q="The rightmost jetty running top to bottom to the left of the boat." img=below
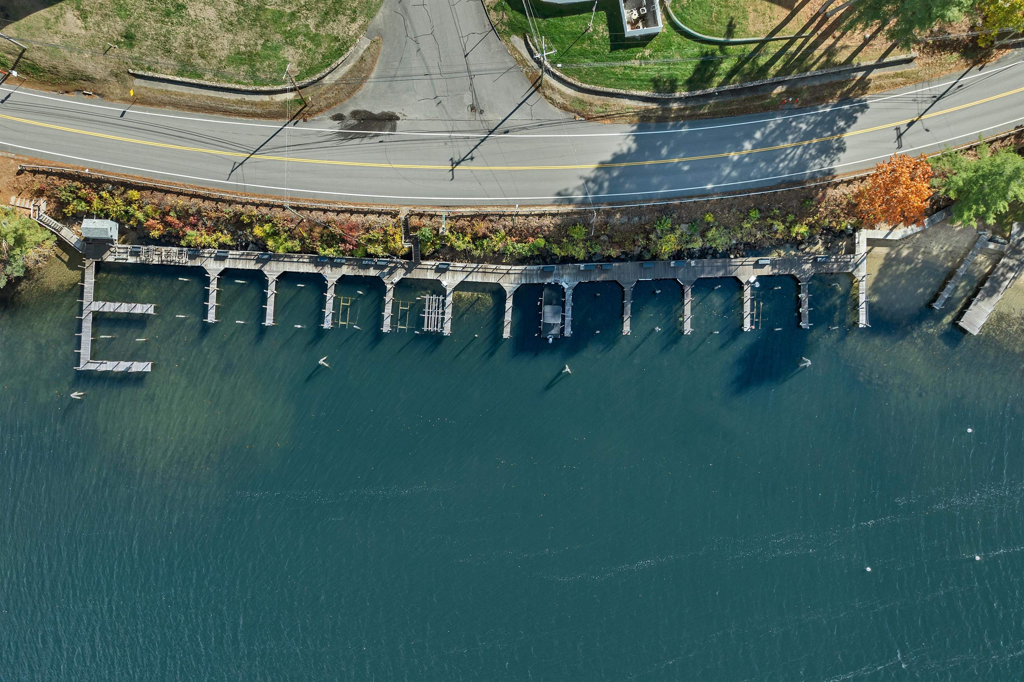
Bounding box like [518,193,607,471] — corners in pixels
[499,283,523,338]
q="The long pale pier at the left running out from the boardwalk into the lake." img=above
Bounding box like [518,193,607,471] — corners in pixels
[72,260,104,369]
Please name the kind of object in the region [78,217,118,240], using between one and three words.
shed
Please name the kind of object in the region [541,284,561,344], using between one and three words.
boat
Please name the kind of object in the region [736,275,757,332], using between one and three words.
pier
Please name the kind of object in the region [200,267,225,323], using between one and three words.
pier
